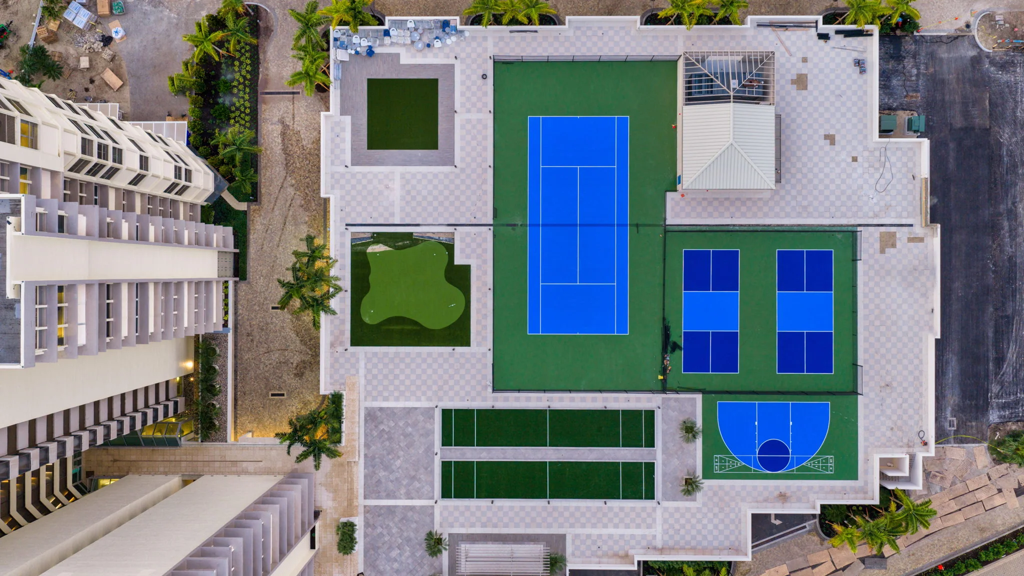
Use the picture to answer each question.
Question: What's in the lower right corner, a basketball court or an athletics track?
basketball court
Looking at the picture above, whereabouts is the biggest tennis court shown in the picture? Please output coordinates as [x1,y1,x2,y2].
[493,61,677,392]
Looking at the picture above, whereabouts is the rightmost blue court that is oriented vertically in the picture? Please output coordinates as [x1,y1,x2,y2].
[777,250,834,374]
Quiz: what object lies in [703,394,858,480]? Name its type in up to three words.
basketball court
